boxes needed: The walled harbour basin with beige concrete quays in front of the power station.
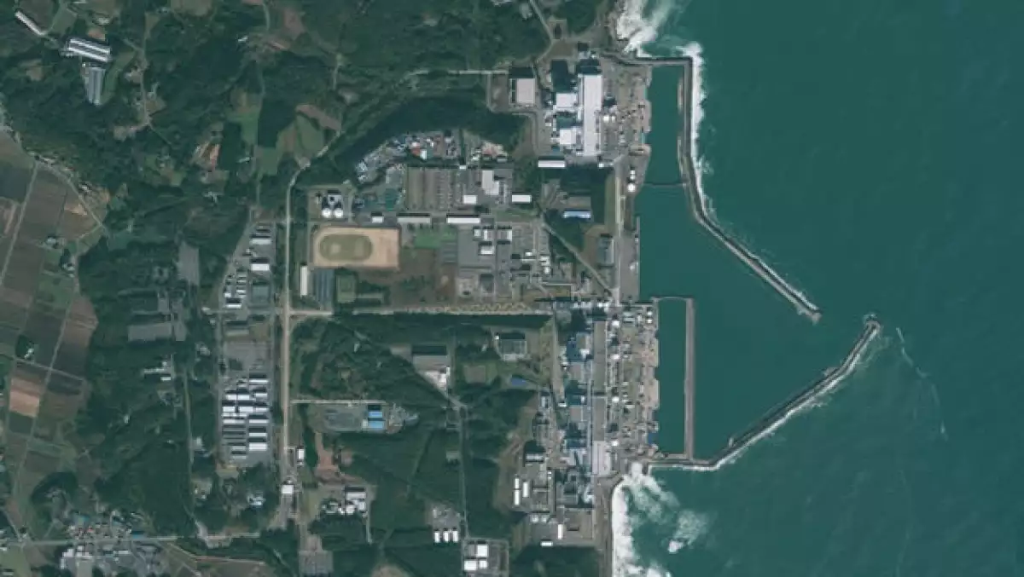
[620,64,688,465]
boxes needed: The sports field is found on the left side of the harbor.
[312,225,401,269]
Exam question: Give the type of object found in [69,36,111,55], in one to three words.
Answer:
greenhouse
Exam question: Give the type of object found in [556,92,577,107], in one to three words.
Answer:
building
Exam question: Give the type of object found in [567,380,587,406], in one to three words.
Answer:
building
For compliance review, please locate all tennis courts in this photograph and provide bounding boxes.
[336,272,356,303]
